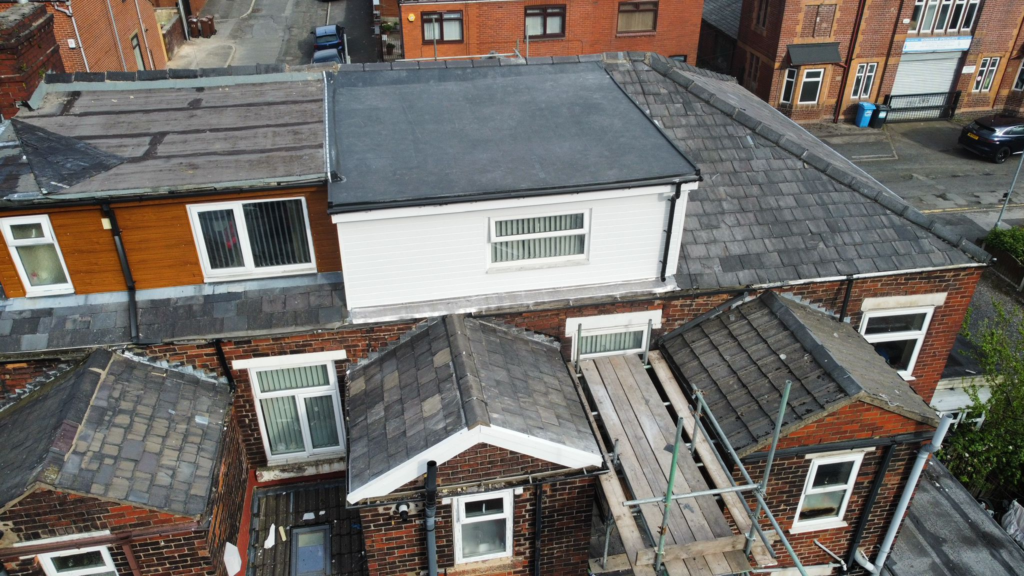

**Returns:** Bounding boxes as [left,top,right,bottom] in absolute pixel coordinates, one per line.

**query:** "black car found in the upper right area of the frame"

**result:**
[958,109,1024,163]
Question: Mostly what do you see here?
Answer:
buildings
